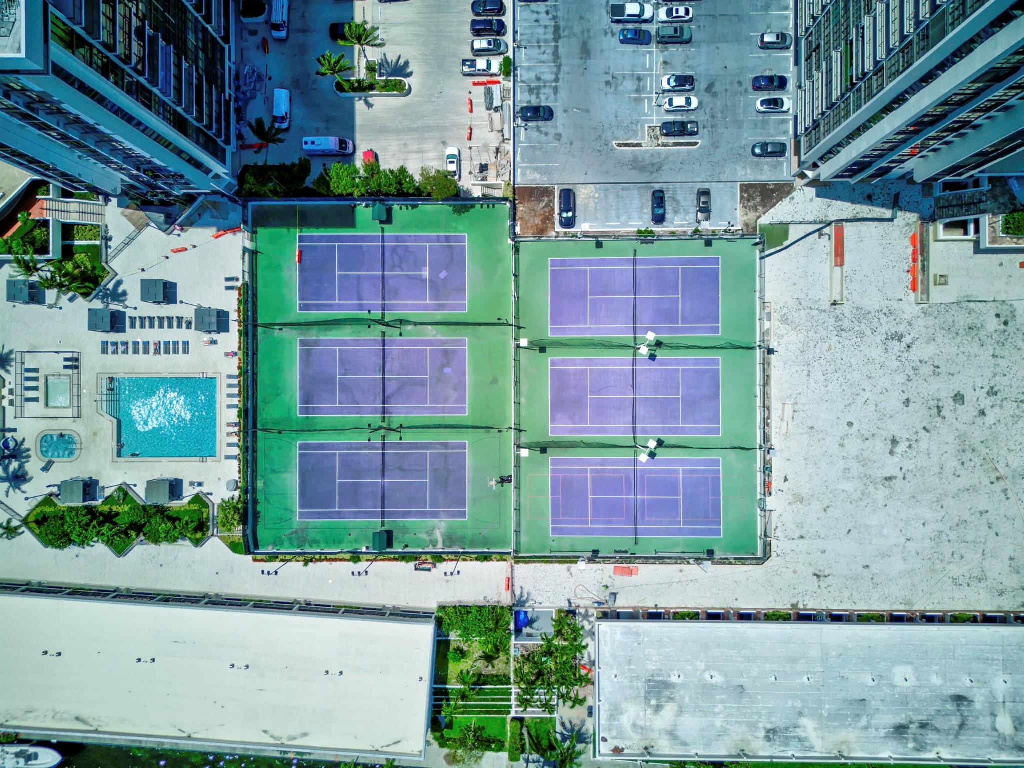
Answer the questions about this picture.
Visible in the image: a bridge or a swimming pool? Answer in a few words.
swimming pool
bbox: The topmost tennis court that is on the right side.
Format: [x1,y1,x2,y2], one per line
[548,248,721,343]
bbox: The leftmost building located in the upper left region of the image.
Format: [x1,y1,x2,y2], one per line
[0,0,238,199]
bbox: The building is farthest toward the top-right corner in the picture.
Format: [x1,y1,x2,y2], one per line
[795,0,1024,182]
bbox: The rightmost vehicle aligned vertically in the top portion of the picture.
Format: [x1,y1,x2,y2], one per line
[695,188,712,224]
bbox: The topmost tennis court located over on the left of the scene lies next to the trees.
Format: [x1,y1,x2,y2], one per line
[298,225,467,320]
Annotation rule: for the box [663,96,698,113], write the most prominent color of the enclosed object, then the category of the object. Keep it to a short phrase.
white car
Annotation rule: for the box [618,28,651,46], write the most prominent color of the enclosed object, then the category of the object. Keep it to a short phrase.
blue car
